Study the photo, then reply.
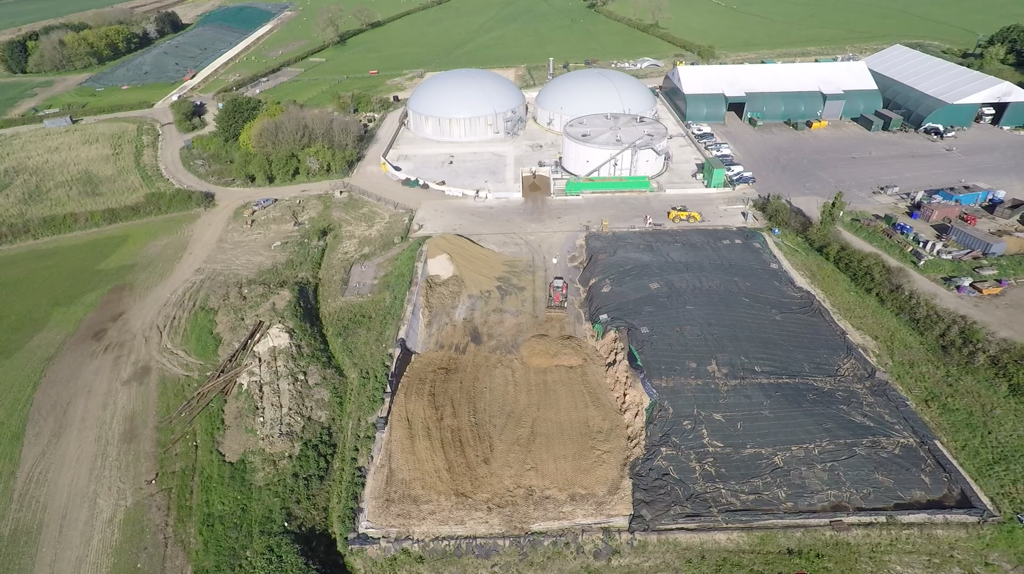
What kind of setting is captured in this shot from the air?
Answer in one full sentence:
This image shows an industrial area.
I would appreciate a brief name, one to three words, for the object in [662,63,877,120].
shed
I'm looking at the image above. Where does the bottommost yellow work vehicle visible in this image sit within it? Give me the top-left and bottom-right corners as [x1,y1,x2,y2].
[670,204,706,225]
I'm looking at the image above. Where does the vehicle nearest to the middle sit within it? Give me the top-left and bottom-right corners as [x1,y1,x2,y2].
[547,270,571,310]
